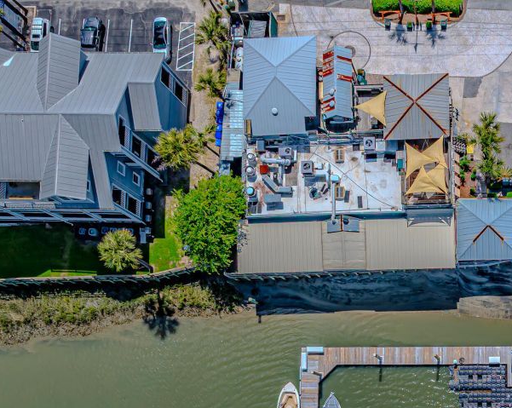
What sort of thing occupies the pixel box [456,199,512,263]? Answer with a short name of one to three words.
building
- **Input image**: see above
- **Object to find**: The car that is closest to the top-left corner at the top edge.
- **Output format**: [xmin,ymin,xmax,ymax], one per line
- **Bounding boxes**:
[24,11,51,52]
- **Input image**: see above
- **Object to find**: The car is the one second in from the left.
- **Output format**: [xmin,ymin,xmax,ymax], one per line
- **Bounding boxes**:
[81,14,105,52]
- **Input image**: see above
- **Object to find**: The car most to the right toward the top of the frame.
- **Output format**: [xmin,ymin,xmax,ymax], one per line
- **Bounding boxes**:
[151,16,174,62]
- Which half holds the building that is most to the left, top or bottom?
top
